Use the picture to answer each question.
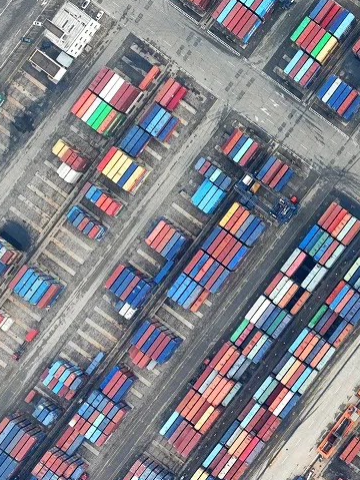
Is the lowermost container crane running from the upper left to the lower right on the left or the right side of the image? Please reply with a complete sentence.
It is on the right.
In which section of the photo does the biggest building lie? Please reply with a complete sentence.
Look in the top left portion of the view to spot the biggest building.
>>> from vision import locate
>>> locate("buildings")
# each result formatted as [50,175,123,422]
[43,2,104,61]
[28,48,74,86]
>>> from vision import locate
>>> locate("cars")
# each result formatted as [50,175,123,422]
[32,20,43,27]
[22,36,32,44]
[41,41,52,49]
[82,0,91,11]
[96,11,105,21]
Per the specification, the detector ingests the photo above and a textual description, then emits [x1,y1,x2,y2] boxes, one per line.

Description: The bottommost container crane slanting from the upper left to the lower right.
[227,171,293,223]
